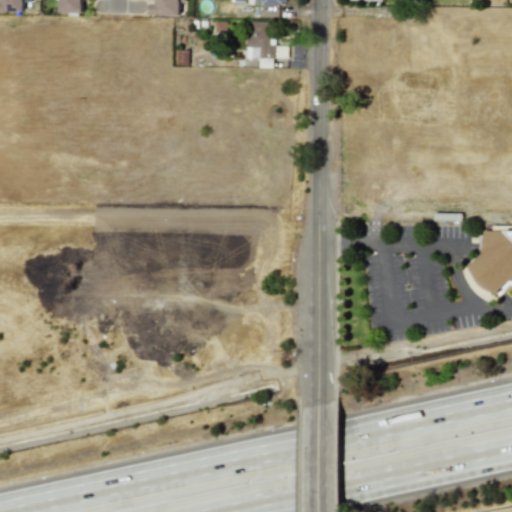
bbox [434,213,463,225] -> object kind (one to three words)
building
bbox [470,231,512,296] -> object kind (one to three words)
building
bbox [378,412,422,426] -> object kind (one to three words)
vehicle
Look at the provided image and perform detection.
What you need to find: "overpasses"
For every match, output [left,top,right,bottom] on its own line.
[296,372,340,512]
